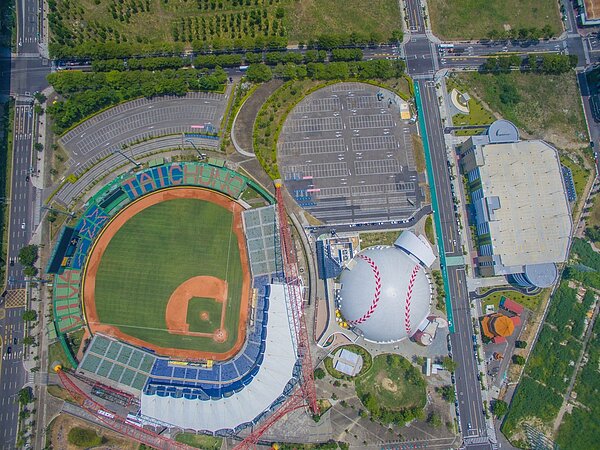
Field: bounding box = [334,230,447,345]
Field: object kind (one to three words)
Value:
building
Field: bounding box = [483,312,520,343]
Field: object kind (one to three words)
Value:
building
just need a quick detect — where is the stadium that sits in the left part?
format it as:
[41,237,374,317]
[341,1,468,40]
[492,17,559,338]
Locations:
[49,161,321,450]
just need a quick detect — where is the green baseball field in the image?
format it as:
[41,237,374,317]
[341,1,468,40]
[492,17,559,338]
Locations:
[73,187,254,361]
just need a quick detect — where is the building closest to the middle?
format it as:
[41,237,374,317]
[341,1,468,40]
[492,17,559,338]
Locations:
[316,238,359,278]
